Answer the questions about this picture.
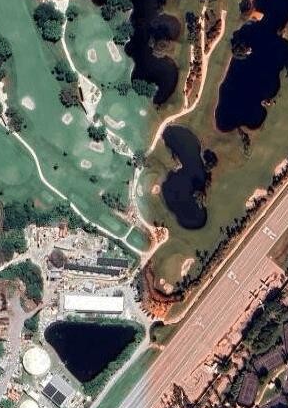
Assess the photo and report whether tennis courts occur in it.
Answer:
Yes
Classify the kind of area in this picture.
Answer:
golf course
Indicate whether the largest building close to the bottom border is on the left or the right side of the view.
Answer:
left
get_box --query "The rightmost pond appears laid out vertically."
[162,124,207,230]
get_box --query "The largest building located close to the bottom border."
[41,374,76,404]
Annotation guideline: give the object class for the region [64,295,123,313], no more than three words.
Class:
building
